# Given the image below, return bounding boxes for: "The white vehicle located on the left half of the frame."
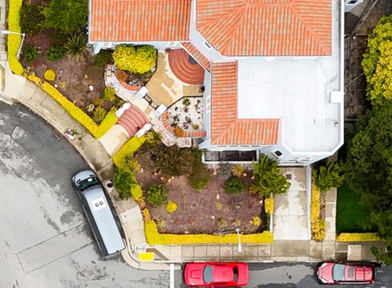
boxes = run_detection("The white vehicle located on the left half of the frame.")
[66,169,129,258]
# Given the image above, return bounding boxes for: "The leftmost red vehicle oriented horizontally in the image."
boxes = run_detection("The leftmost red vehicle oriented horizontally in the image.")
[180,259,247,288]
